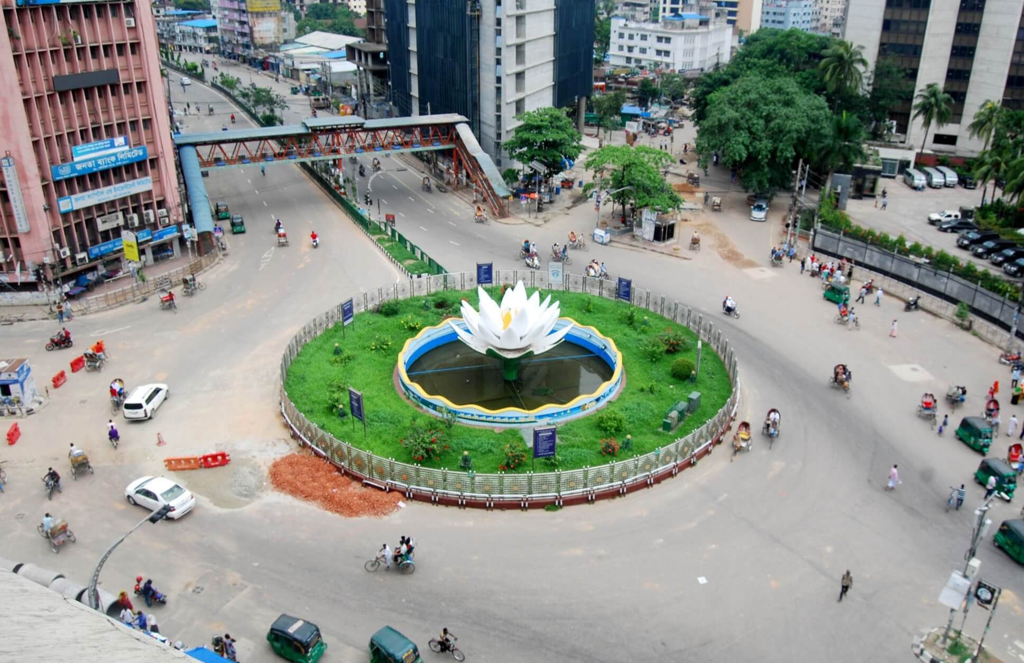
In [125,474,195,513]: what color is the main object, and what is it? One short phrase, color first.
white car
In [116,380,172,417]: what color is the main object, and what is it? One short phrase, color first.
white car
